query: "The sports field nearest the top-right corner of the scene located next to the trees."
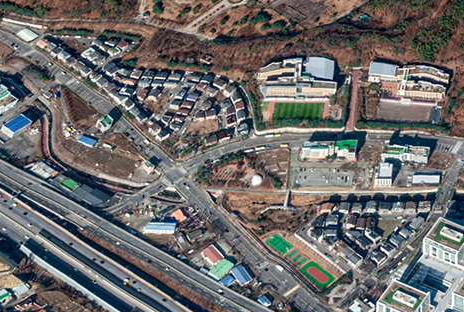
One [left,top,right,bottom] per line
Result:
[376,97,442,122]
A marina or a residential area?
residential area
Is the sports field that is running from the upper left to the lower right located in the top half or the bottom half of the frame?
bottom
